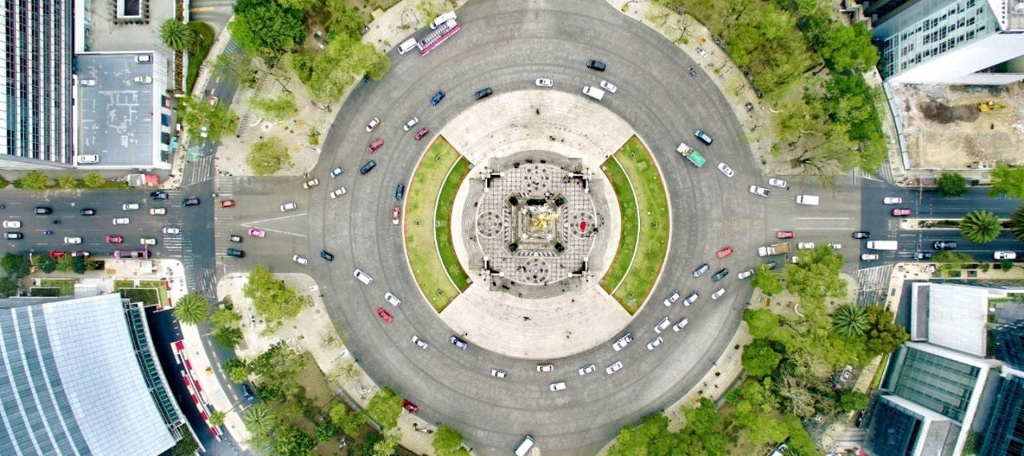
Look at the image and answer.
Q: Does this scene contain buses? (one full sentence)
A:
Yes, looking at the shot, I can spot a bus.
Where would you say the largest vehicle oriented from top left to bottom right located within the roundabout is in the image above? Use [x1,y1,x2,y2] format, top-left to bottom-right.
[674,141,708,169]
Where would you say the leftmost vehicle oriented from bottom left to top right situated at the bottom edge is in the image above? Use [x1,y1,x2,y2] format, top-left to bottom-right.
[511,430,537,456]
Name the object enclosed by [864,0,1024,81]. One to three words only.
building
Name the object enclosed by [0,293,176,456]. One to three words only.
building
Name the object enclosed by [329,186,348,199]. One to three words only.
vehicle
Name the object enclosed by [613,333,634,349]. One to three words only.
vehicle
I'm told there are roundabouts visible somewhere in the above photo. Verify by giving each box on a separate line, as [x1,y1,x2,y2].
[306,0,766,454]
